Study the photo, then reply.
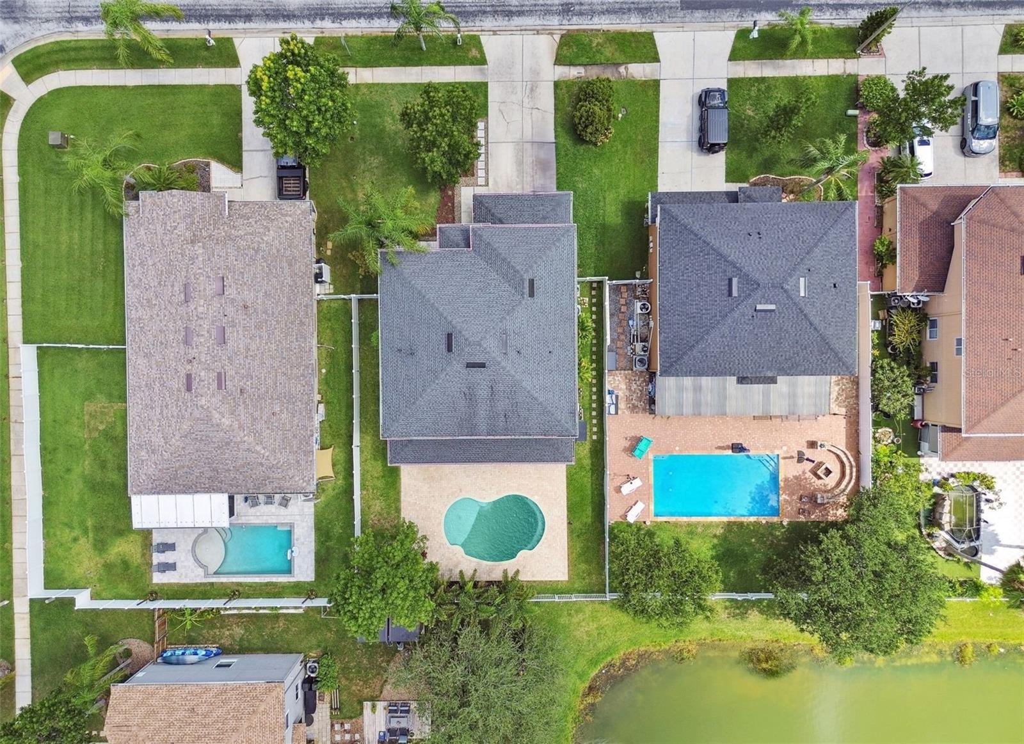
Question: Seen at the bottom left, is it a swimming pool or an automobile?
swimming pool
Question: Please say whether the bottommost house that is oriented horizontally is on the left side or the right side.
left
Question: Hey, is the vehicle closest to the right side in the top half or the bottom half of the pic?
top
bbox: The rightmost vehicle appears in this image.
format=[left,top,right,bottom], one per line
[967,83,1006,156]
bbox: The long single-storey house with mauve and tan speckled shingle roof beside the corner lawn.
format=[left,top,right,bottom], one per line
[122,187,322,499]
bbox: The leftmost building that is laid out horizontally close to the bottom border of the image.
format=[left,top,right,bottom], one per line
[108,656,313,744]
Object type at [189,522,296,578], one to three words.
swimming pool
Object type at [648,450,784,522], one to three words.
swimming pool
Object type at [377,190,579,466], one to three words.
house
